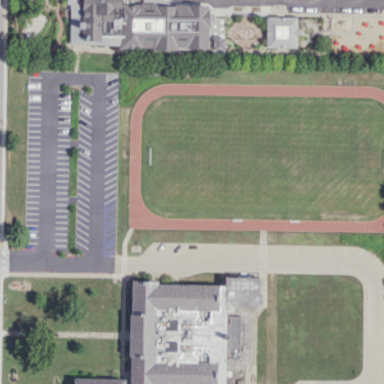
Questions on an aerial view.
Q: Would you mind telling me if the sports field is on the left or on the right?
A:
right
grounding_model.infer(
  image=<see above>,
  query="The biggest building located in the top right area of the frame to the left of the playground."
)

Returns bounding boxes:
[268,16,300,50]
